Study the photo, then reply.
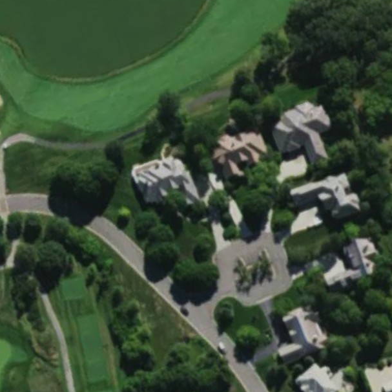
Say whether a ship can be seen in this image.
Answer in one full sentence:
No, there's no ship here.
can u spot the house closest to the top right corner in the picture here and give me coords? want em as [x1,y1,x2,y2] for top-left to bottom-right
[271,100,332,160]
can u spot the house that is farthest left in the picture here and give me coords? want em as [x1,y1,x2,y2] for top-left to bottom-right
[126,154,201,207]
